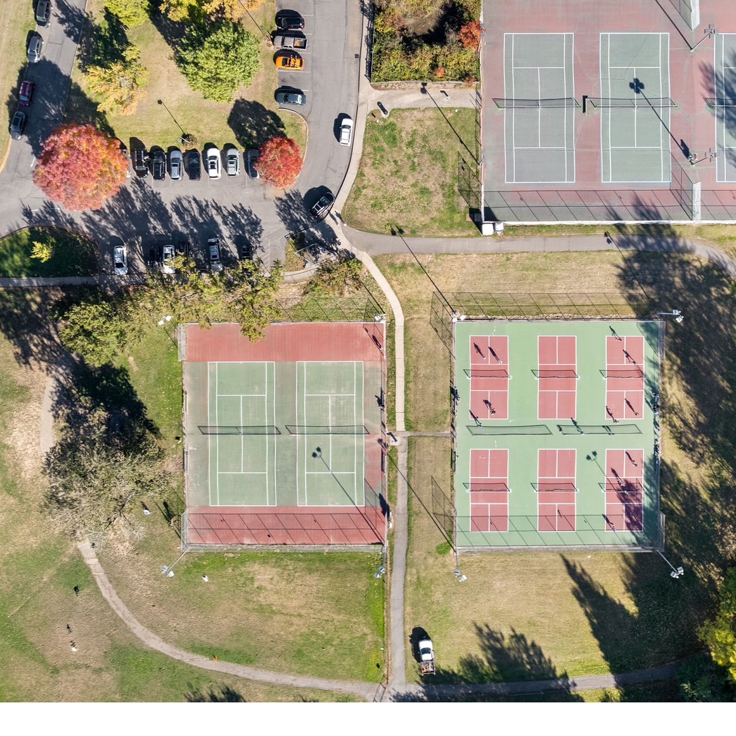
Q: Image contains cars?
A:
Yes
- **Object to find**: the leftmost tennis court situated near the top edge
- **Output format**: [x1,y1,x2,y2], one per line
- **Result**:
[504,32,574,184]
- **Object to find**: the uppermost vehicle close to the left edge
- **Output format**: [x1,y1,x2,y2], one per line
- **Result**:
[36,0,54,30]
